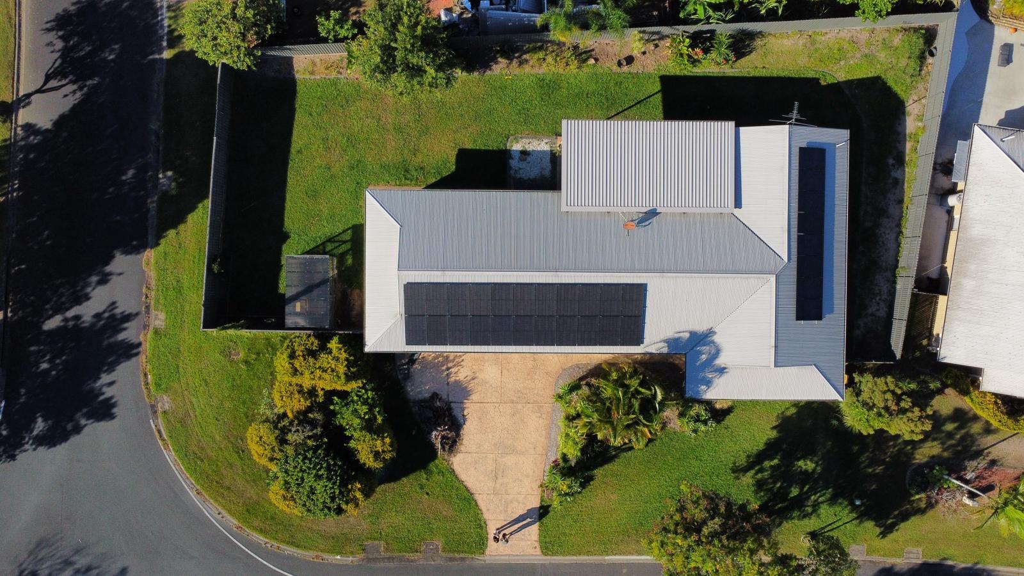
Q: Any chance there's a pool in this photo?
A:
No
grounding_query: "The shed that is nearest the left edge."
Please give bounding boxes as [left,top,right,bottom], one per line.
[285,255,340,328]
